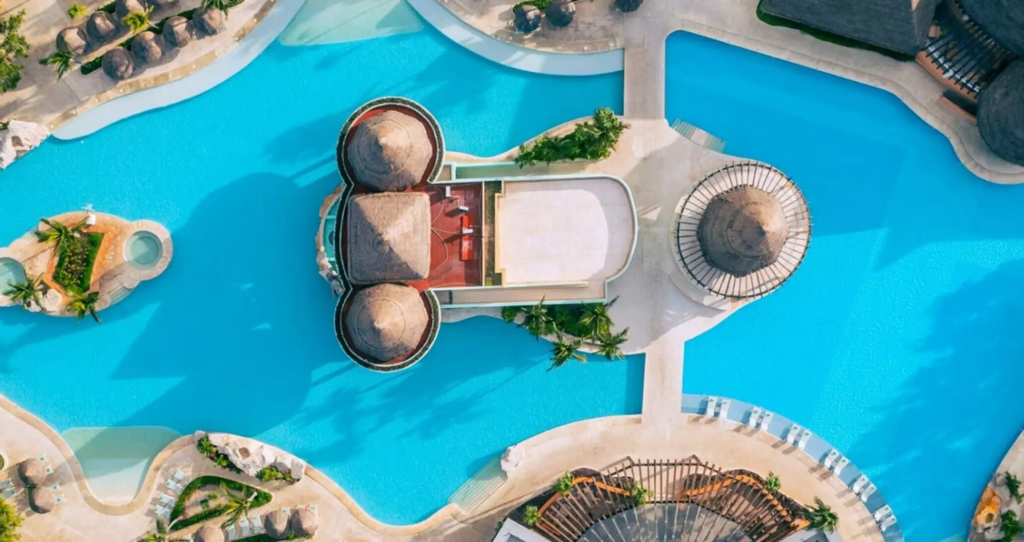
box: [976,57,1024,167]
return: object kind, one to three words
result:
building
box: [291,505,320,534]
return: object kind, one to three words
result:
umbrella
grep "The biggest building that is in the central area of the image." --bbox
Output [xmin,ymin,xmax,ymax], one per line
[334,96,637,372]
